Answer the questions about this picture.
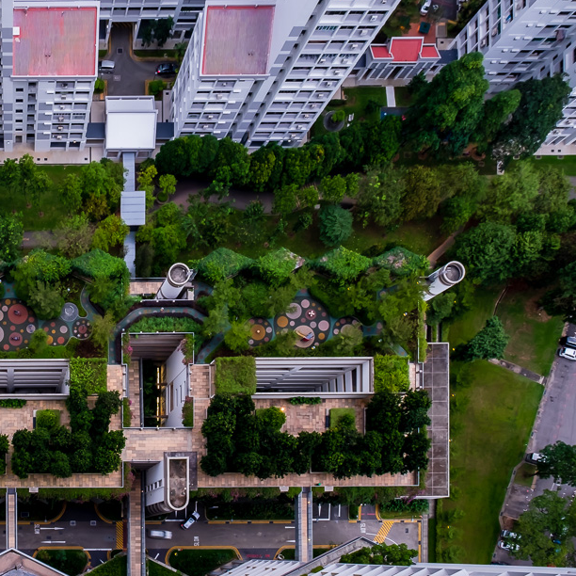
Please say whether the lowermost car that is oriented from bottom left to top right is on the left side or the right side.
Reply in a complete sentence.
The lowermost car that is oriented from bottom left to top right is on the left side of the image.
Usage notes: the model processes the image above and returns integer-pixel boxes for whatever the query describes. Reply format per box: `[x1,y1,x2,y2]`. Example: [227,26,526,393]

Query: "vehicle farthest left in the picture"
[98,60,116,74]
